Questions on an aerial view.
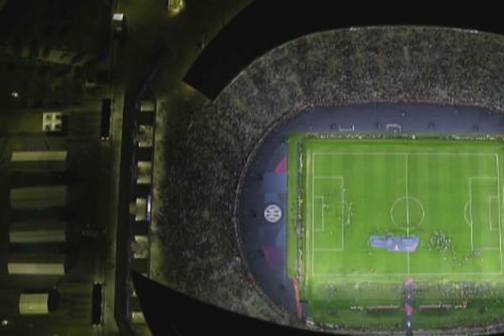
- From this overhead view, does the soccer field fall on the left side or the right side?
right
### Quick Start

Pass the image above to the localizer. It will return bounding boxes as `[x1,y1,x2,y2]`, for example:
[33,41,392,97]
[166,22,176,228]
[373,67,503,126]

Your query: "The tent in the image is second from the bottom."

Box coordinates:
[4,254,71,275]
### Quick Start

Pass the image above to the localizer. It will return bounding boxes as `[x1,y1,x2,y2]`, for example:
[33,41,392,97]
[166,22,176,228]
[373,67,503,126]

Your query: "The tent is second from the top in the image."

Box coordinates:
[6,186,73,210]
